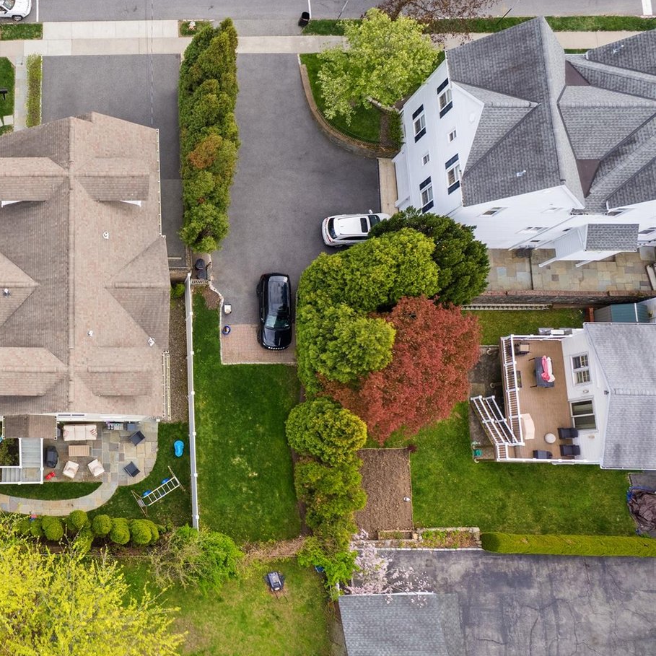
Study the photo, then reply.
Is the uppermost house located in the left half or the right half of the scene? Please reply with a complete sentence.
You can find the uppermost house on the right side of the picture.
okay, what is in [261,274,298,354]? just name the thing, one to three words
car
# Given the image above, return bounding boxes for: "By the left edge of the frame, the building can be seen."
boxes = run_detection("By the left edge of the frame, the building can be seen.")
[0,112,171,439]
